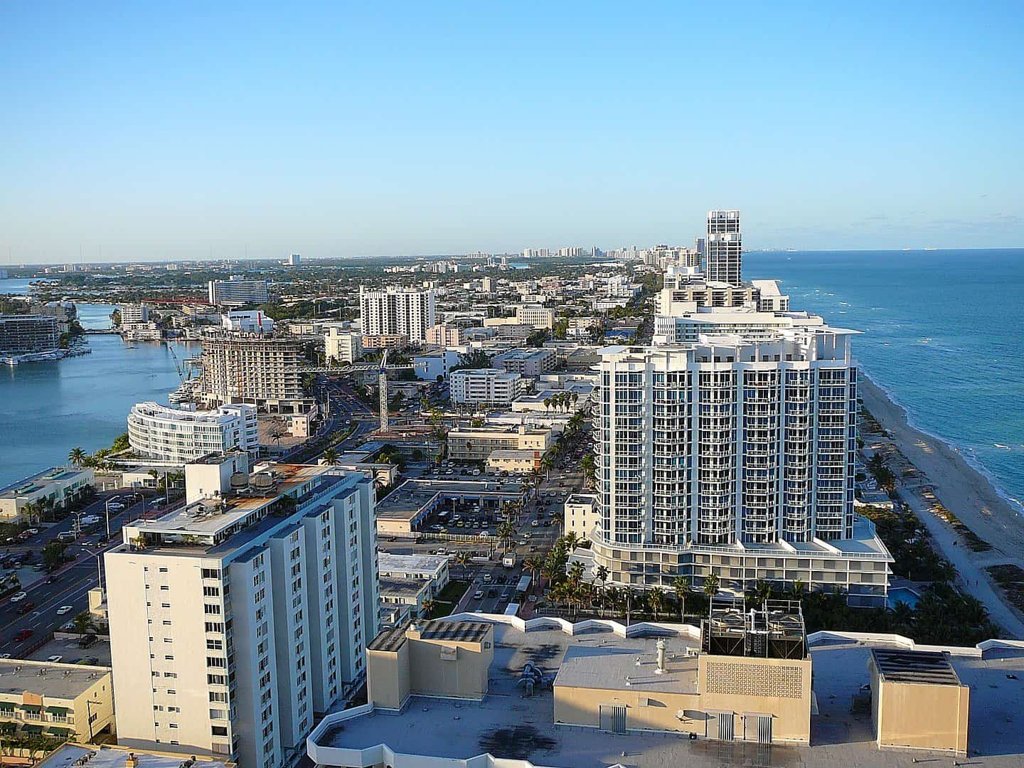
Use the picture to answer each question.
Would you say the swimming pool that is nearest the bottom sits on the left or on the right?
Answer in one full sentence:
The swimming pool that is nearest the bottom sits on the right side.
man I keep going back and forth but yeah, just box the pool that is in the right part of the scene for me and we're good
[882,584,924,614]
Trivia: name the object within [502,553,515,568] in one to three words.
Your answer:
vehicle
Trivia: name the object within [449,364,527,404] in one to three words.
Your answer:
building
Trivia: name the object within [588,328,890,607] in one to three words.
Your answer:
building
